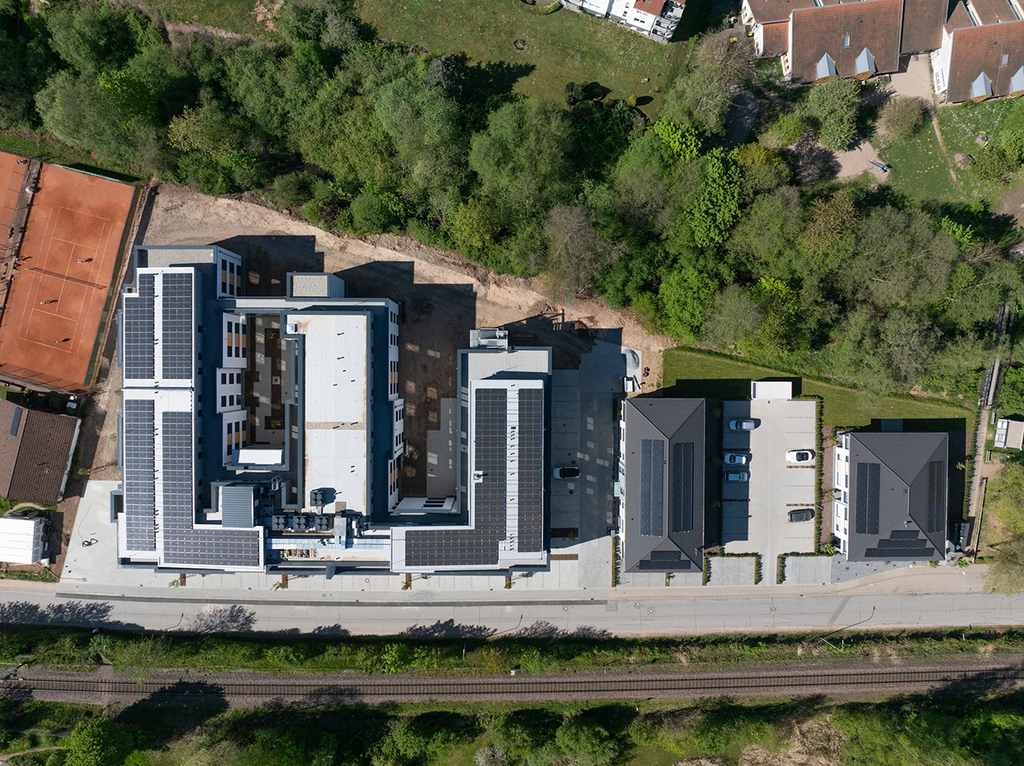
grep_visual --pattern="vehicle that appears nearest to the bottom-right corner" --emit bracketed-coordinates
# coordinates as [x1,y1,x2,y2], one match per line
[785,507,815,522]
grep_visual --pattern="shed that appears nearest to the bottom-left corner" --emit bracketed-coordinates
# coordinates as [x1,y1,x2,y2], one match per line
[0,512,49,564]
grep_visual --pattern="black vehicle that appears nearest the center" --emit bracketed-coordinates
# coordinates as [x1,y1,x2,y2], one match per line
[553,466,581,480]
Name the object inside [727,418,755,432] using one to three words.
car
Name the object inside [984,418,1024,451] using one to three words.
shed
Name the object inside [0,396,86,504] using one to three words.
house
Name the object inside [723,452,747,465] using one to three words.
vehicle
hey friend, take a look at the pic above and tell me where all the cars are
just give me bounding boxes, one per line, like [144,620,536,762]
[785,507,815,522]
[723,452,747,465]
[784,449,813,463]
[553,466,581,480]
[723,470,749,484]
[727,418,755,432]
